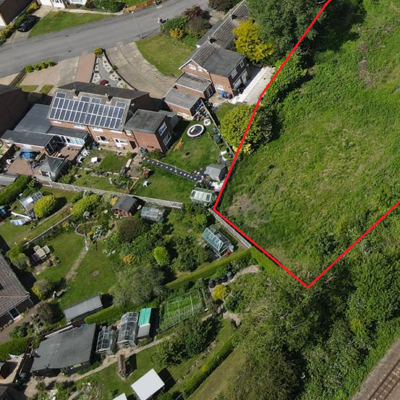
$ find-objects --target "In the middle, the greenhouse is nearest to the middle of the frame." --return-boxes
[185,186,218,211]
